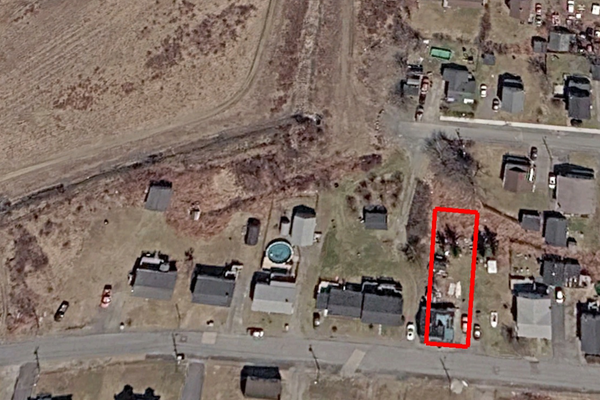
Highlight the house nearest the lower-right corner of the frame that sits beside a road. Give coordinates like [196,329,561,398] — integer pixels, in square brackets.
[574,301,600,365]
